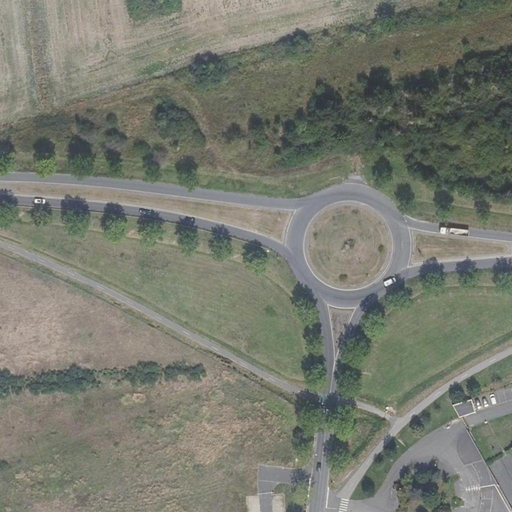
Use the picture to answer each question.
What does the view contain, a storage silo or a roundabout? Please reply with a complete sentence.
Visible in the photo is a roundabout.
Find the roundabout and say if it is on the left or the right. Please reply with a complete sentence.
It is on the right.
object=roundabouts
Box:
[286,184,410,307]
